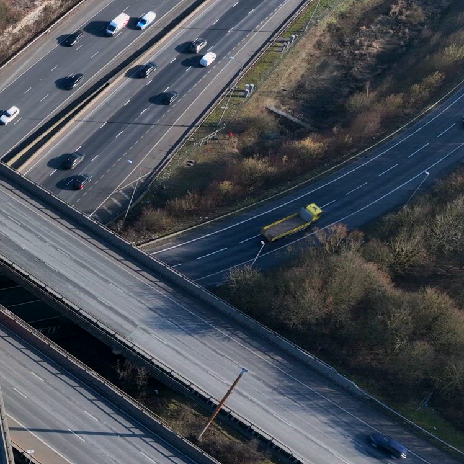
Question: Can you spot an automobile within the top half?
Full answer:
Yes, I can see an automobile within the top half.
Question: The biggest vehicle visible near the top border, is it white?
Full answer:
Yes, the biggest vehicle visible near the top border appears white.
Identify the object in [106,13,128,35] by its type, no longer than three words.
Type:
vehicle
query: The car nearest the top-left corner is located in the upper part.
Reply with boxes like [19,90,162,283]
[64,33,81,47]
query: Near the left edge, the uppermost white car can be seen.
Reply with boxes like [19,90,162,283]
[0,107,19,124]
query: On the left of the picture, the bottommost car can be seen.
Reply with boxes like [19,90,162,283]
[69,173,91,192]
